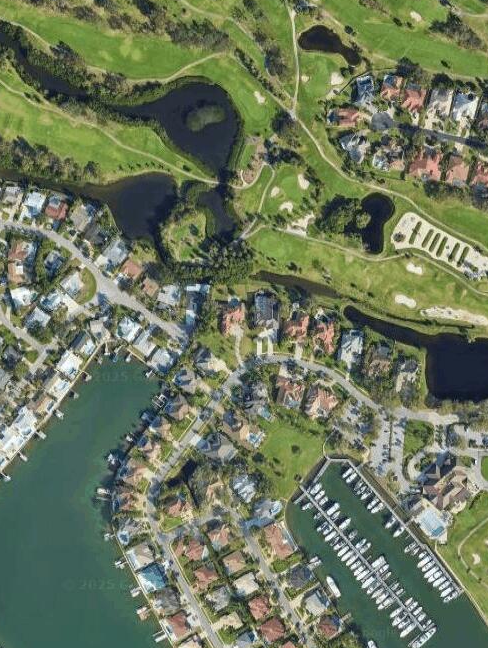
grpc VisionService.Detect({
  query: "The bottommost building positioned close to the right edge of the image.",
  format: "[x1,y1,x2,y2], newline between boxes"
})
[404,448,471,512]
